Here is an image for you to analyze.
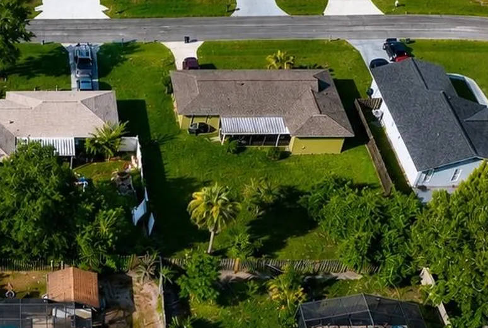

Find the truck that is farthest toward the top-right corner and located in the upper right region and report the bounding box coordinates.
[380,37,411,60]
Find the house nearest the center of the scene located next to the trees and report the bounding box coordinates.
[169,70,356,153]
